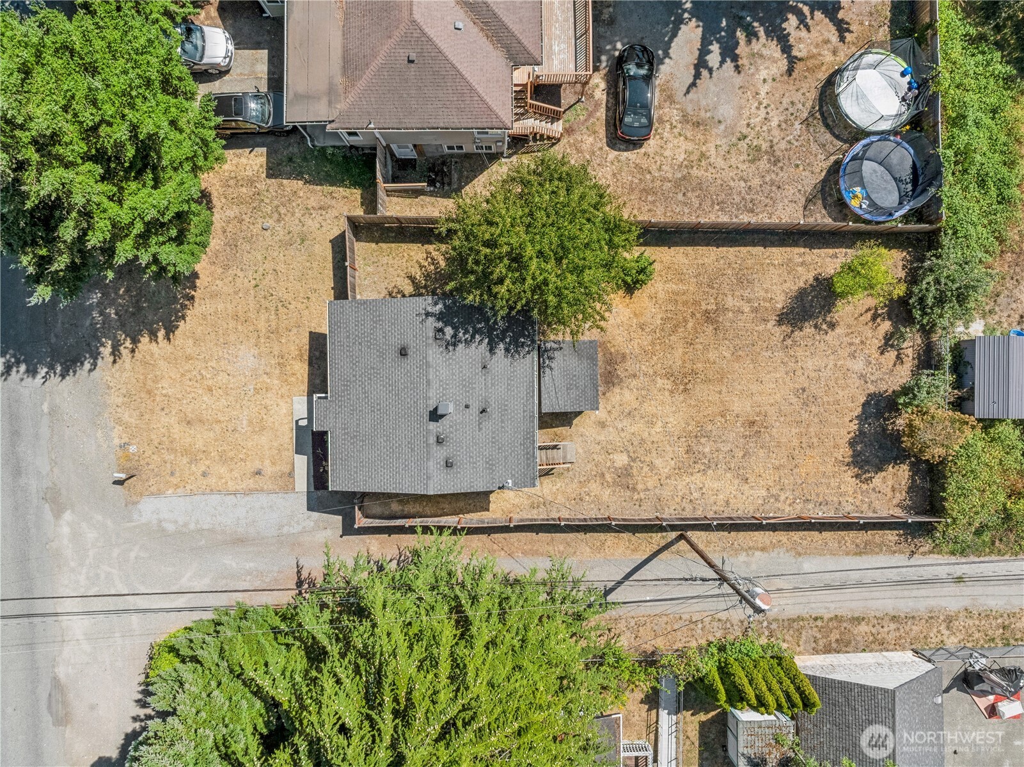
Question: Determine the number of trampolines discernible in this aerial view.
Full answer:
My tally gives 2 trampolines in this view.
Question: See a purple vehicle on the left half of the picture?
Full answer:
No, the scene shows no purple vehicle on the left half of the picture.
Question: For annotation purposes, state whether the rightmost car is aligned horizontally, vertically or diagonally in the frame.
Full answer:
In this picture, the rightmost car is oriented vertically.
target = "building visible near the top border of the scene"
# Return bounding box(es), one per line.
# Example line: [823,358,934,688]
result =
[259,0,545,165]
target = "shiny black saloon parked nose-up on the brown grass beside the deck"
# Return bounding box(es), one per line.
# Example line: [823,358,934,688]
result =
[612,51,660,151]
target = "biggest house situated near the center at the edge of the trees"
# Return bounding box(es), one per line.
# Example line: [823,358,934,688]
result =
[313,298,541,495]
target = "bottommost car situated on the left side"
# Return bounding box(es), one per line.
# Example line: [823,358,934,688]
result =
[204,87,301,140]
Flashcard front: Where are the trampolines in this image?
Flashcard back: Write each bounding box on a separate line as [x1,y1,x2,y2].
[834,122,945,222]
[826,31,944,134]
